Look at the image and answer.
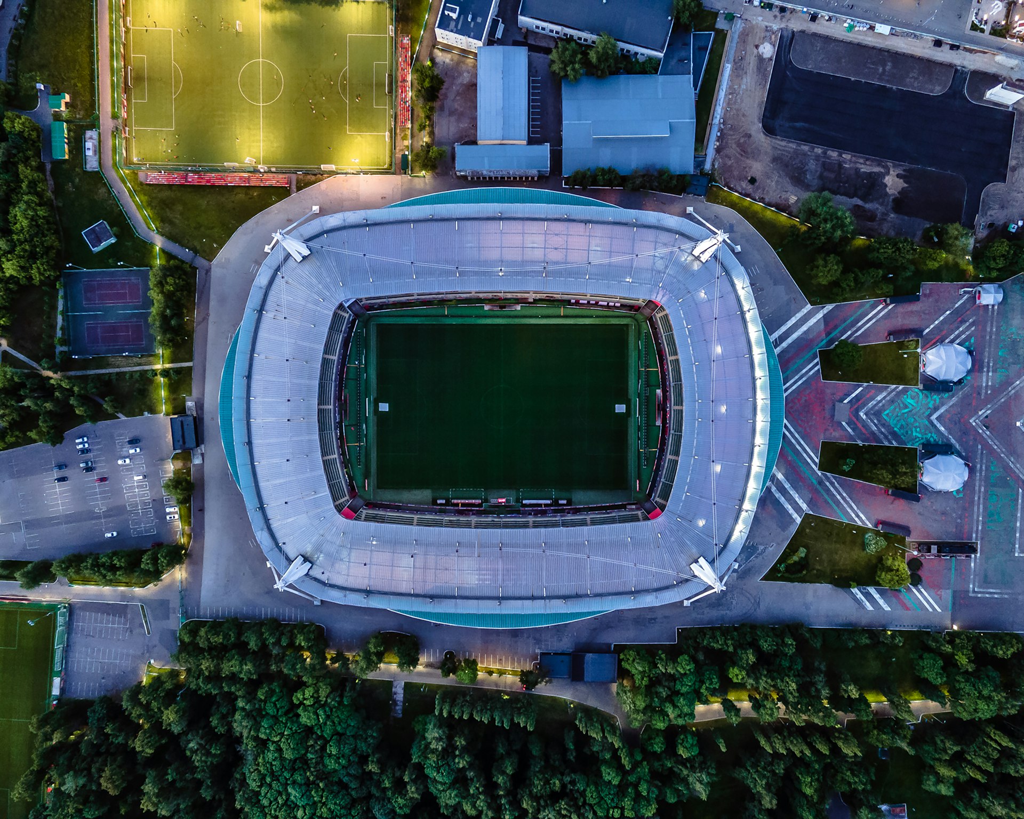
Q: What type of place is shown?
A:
sports ground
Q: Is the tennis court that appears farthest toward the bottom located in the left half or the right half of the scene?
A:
left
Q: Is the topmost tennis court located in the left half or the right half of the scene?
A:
left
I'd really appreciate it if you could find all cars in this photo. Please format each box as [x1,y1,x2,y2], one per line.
[52,465,65,470]
[104,532,116,538]
[54,477,66,482]
[128,448,140,454]
[127,439,139,445]
[165,507,176,512]
[79,461,91,467]
[522,685,533,691]
[95,477,106,483]
[81,467,94,473]
[133,474,145,480]
[76,449,89,455]
[117,458,129,464]
[166,515,177,520]
[75,443,88,449]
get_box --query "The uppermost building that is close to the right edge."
[985,77,1024,112]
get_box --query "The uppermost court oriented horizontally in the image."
[63,269,152,313]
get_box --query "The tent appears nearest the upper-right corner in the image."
[977,283,1009,304]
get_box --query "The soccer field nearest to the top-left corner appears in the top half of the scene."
[115,0,396,171]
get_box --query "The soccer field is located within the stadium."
[365,315,640,505]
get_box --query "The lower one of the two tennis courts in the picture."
[66,309,156,355]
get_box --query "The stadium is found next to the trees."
[218,187,785,629]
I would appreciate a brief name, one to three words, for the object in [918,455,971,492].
tent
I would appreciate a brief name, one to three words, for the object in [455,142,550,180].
building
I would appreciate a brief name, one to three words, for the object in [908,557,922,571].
umbrella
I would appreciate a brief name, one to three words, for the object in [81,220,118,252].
shed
